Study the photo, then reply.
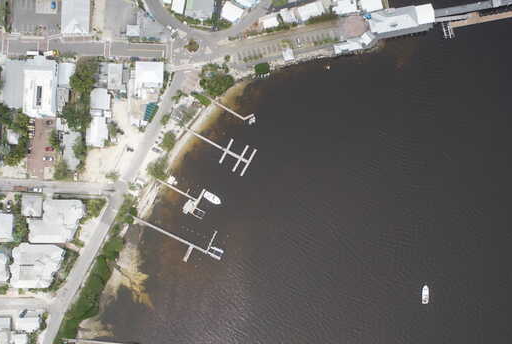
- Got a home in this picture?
Yes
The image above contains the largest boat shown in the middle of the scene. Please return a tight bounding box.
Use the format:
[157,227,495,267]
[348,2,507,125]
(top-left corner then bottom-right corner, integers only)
[204,190,220,203]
